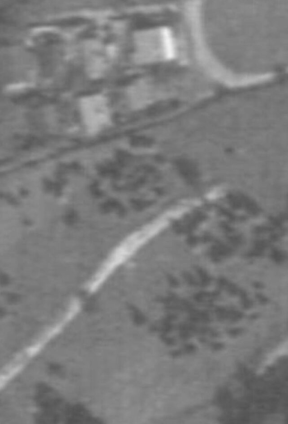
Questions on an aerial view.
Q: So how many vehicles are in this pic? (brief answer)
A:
none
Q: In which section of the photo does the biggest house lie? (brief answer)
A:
top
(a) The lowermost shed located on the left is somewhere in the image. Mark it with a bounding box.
[78,94,112,133]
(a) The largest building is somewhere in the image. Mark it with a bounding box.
[132,25,178,64]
